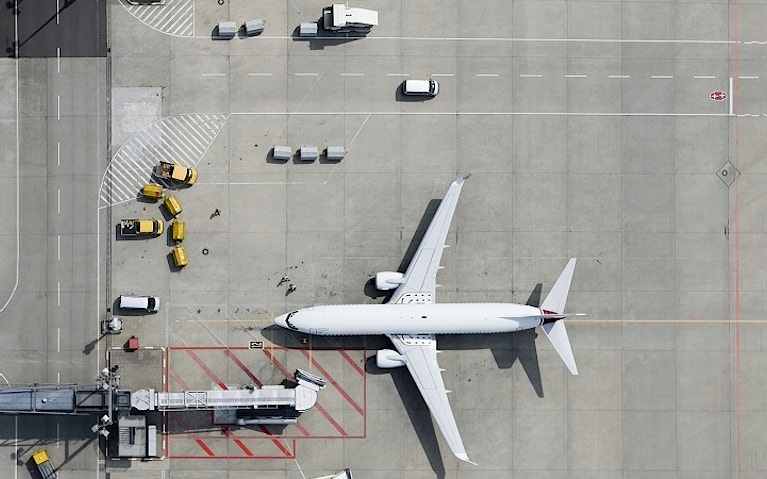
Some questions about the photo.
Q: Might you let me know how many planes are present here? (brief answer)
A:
1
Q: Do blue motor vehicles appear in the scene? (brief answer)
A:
No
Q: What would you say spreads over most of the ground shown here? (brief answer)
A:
paved ground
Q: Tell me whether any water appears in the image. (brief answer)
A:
No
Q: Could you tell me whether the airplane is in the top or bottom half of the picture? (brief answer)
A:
bottom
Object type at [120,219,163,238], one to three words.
vehicle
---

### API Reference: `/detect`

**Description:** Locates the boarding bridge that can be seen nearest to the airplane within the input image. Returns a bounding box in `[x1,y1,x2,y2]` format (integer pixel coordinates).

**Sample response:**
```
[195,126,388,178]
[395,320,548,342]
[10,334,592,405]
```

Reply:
[0,366,326,434]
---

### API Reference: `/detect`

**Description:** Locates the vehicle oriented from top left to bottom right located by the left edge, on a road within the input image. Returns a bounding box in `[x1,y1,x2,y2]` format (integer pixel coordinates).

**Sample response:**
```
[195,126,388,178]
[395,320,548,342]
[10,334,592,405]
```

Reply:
[31,448,61,479]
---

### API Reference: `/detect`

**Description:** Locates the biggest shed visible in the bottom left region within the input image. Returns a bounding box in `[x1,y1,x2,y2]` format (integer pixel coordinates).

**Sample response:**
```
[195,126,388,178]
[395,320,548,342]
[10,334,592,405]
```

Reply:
[118,412,147,457]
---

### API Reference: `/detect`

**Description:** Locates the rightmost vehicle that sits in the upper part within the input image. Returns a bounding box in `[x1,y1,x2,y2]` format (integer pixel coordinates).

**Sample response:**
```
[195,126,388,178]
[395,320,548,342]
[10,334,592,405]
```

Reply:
[401,79,440,97]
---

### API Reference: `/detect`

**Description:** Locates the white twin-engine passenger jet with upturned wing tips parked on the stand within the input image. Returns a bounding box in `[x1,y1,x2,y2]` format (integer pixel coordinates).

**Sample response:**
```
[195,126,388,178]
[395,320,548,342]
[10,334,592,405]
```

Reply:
[274,174,587,463]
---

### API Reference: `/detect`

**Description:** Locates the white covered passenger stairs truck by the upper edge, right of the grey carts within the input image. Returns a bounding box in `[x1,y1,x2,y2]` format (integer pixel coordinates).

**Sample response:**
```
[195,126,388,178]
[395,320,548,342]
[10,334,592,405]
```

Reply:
[326,4,381,34]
